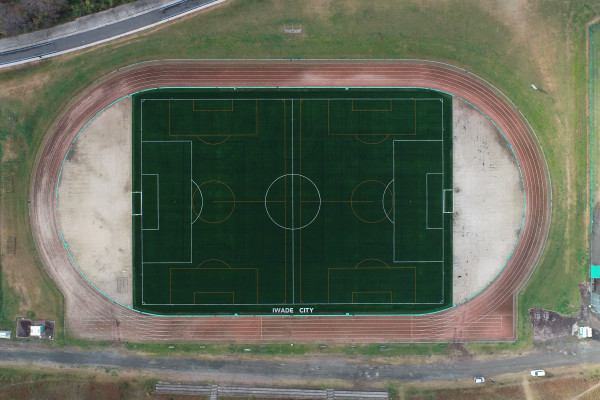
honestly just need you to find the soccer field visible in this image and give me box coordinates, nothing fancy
[132,88,452,314]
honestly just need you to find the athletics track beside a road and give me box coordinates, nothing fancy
[29,60,553,343]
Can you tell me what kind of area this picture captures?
sports ground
